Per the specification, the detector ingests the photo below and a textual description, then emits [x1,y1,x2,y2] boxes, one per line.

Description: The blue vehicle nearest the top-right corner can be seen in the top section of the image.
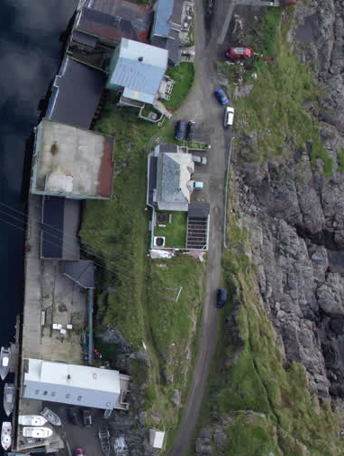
[215,86,230,106]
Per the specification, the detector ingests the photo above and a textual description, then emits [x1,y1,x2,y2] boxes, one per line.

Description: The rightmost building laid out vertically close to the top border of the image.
[150,0,184,66]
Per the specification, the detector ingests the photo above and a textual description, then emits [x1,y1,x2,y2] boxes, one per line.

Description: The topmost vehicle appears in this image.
[227,45,252,58]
